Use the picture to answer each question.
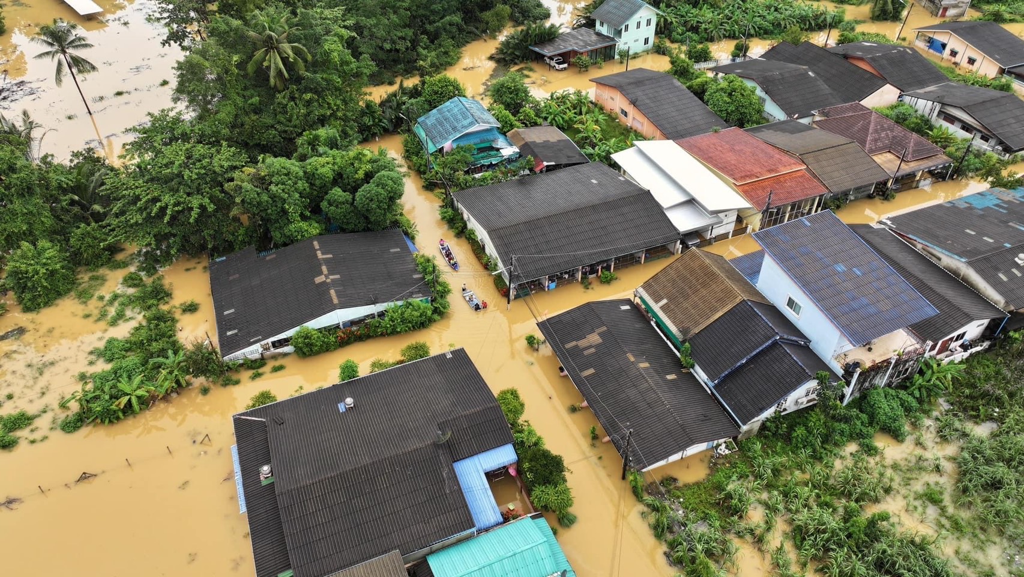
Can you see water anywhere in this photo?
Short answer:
Yes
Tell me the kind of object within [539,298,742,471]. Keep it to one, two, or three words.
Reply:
house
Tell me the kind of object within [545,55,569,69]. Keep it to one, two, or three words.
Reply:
vehicle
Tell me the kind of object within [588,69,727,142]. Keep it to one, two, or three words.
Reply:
house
